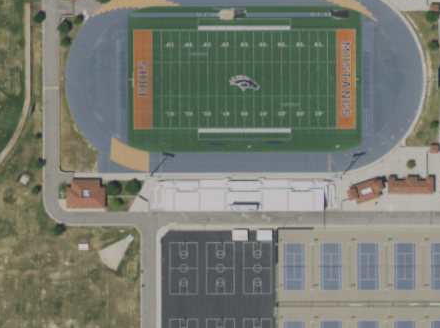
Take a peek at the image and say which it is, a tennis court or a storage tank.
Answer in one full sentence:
There is a tennis court in the scene.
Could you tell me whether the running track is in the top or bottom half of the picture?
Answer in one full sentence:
The running track sits in the top half of the picture.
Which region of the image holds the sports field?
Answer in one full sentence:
The sports field appears toward the top of the photo.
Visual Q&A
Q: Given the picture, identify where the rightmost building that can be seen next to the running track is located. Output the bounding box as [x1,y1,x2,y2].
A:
[388,176,434,194]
